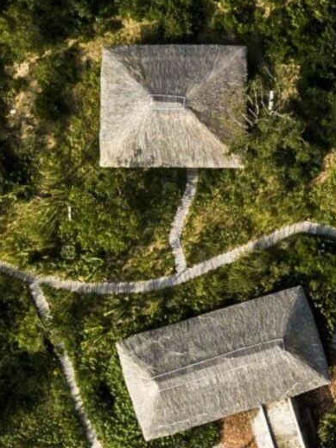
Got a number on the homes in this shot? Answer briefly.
2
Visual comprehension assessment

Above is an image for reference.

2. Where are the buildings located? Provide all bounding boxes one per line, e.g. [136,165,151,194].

[115,288,329,441]
[98,45,248,169]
